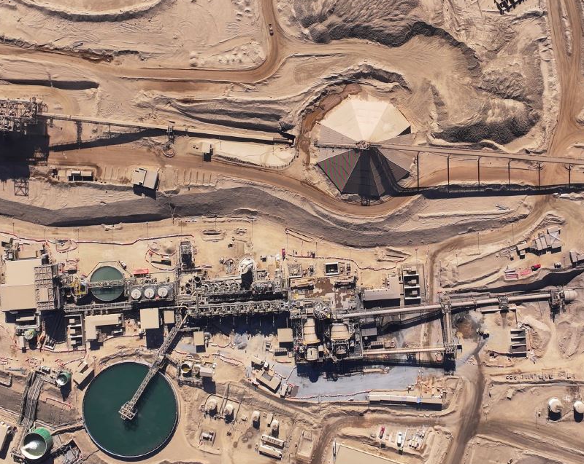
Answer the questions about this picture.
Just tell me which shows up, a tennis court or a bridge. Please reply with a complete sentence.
Of the two, only a bridge appears.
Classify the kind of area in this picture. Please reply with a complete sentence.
This looks like an industrial area.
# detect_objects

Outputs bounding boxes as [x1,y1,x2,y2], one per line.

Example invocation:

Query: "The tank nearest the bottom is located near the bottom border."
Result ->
[20,429,52,459]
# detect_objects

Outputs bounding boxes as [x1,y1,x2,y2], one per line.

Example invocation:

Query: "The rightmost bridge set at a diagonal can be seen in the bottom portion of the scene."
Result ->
[128,320,188,410]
